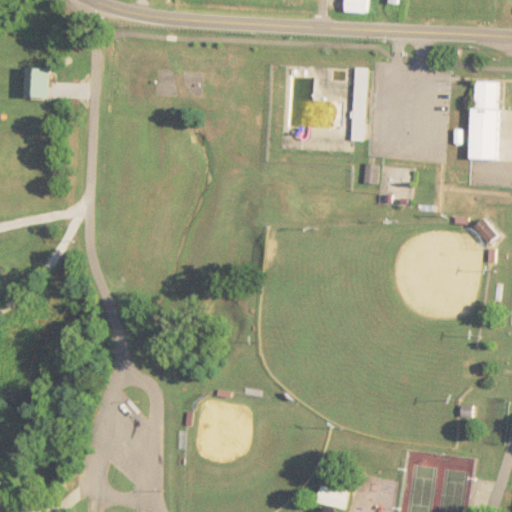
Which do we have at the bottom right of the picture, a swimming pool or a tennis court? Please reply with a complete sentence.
There is a tennis court at the bottom right of the picture.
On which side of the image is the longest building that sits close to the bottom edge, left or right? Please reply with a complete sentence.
You can find the longest building that sits close to the bottom edge on the right side of the picture.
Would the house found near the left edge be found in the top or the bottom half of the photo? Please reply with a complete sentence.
It is in the top half that the house found near the left edge appears.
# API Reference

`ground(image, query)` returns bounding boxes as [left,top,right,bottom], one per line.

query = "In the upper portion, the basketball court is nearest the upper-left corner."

[157,70,177,96]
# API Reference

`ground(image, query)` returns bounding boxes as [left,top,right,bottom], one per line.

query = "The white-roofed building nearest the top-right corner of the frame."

[474,80,502,108]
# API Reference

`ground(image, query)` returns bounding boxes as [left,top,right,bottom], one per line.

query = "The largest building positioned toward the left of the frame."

[24,68,50,100]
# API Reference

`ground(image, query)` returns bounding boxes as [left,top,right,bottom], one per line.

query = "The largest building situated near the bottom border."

[316,491,352,510]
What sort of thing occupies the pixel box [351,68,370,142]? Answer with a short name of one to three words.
building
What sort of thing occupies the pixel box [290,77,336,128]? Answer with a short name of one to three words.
swimming pool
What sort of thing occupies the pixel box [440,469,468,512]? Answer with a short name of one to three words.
tennis court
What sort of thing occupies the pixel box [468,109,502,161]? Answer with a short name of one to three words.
building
